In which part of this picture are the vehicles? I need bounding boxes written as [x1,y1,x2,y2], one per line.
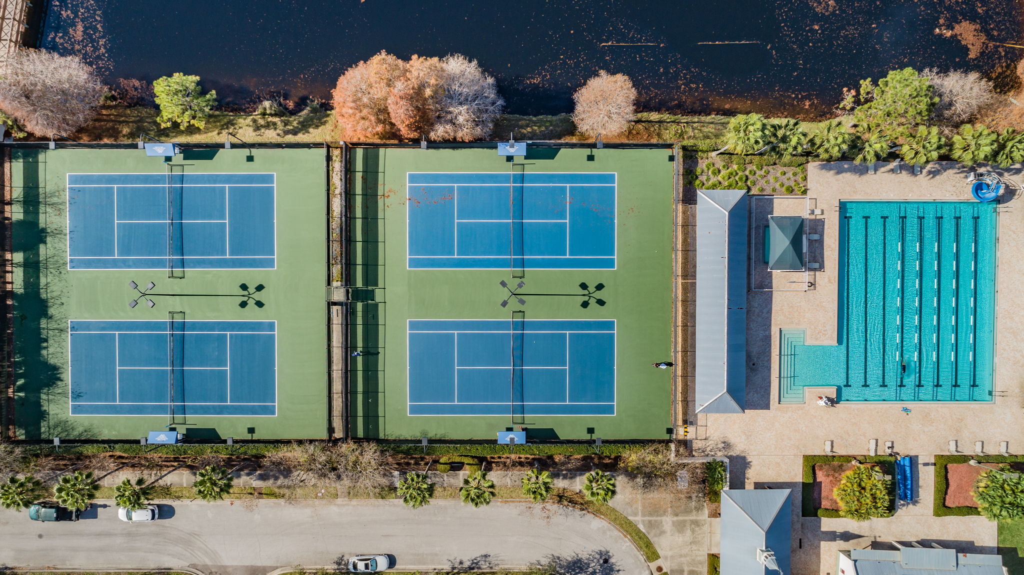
[348,553,390,573]
[30,502,83,523]
[121,503,160,522]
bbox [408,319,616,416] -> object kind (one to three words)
tennis court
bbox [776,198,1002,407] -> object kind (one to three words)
swimming pool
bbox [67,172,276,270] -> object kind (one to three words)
tennis court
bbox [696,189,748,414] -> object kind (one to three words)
building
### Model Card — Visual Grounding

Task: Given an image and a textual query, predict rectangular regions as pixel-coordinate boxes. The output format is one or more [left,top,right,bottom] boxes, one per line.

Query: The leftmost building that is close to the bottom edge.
[720,489,792,575]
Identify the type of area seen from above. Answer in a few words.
sports ground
